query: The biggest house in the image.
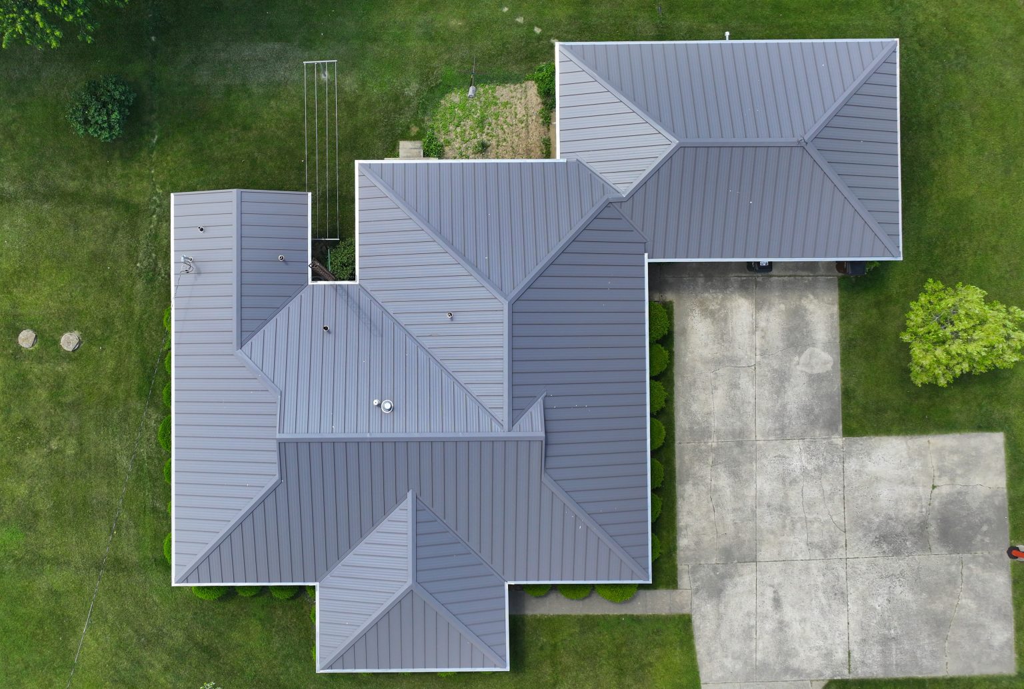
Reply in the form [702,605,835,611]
[170,30,901,672]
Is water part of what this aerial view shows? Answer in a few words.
No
